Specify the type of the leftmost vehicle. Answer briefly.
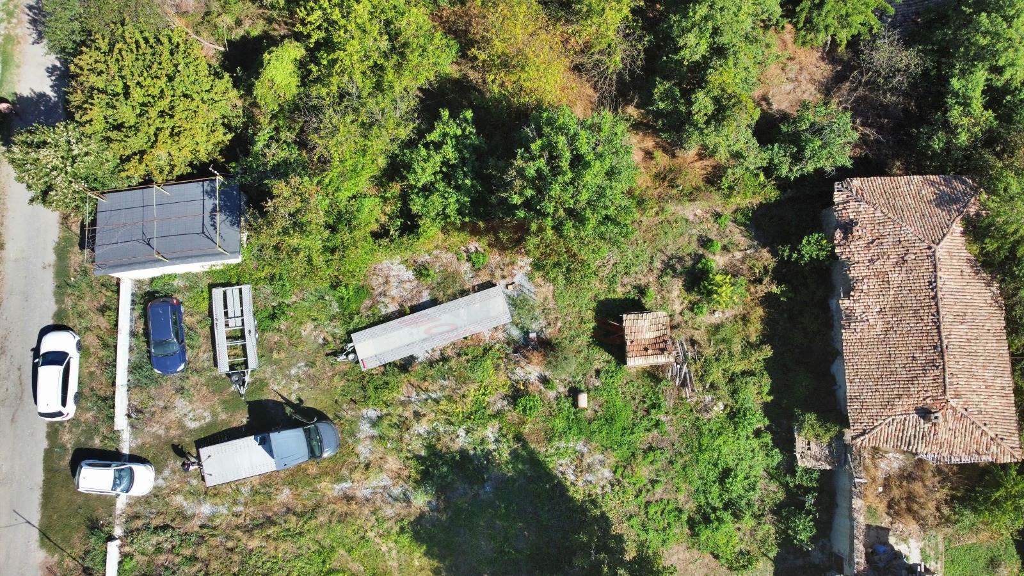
car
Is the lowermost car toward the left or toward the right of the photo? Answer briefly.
left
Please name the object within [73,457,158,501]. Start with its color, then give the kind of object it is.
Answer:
white car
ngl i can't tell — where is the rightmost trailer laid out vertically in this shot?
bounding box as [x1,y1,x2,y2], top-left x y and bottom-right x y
[211,283,263,402]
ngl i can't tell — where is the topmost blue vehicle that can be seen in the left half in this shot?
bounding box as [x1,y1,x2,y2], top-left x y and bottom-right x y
[144,297,189,376]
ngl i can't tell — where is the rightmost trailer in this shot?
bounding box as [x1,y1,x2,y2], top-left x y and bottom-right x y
[324,286,512,371]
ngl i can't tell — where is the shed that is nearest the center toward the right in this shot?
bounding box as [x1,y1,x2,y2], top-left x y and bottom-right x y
[608,310,677,368]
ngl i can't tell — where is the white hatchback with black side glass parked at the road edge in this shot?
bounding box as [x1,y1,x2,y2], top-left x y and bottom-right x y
[34,331,83,419]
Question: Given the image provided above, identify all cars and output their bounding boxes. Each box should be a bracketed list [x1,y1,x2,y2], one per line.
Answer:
[144,297,189,376]
[34,331,83,419]
[73,457,158,501]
